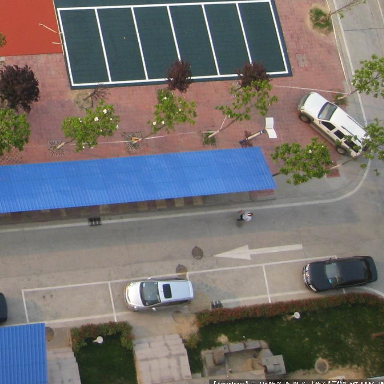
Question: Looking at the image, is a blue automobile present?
No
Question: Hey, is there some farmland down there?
No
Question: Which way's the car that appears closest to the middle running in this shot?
from left to right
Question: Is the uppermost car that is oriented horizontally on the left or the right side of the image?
right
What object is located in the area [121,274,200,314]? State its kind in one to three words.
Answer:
car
